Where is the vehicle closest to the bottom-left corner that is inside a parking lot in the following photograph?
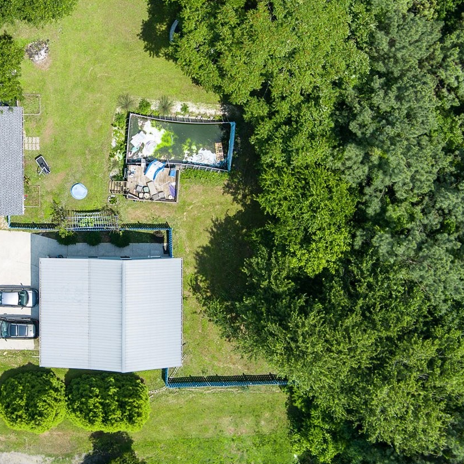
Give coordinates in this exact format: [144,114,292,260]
[0,316,37,341]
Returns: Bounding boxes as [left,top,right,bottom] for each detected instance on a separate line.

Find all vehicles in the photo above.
[0,316,37,341]
[0,287,37,309]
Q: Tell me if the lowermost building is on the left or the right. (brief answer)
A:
left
